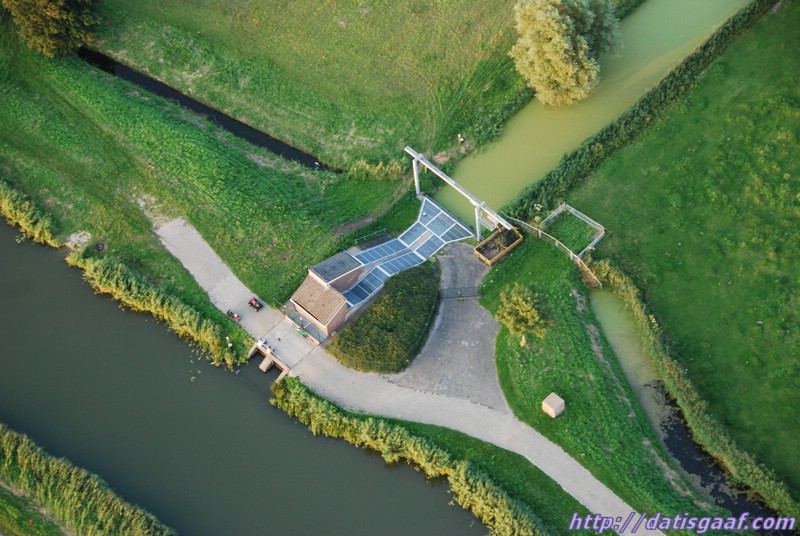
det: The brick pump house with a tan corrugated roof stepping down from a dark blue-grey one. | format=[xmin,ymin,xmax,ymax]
[289,248,365,335]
